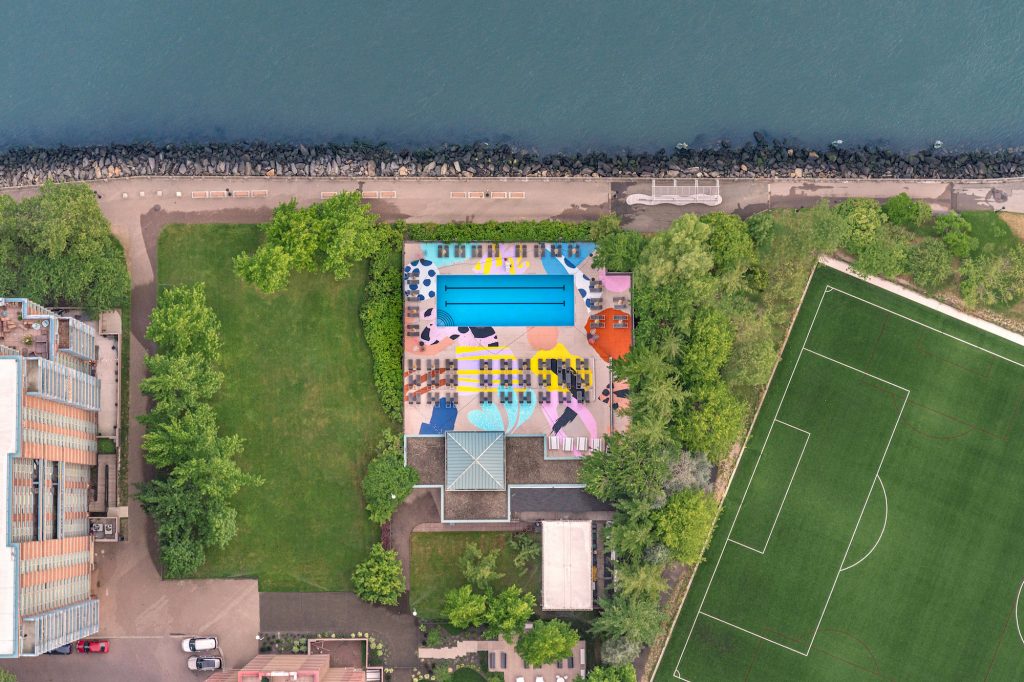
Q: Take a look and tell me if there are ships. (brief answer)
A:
No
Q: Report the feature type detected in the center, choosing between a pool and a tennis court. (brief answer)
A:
pool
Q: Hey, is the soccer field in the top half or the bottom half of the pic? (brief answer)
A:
bottom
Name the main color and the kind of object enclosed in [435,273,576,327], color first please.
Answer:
blue swimming pool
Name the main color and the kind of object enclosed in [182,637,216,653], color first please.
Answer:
white car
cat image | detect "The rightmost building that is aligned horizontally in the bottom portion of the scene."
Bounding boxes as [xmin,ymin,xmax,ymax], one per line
[405,431,605,522]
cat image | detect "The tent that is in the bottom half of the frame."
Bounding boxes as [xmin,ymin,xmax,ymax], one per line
[542,521,593,610]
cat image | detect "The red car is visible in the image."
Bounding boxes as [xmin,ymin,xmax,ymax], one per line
[76,640,109,654]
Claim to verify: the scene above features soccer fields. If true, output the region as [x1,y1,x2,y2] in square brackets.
[650,262,1024,682]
